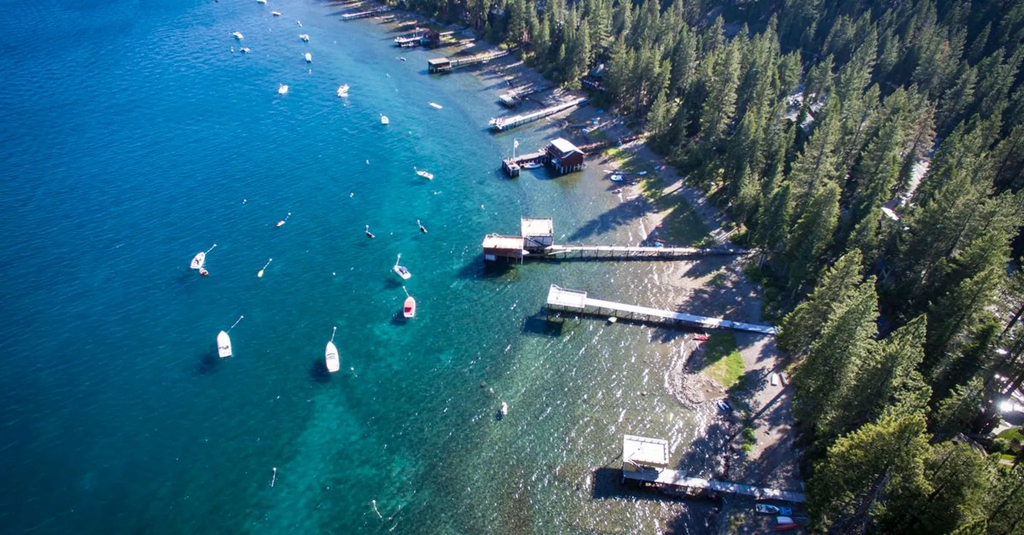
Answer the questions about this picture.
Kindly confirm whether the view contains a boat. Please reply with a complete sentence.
Yes, there is a boat in the image.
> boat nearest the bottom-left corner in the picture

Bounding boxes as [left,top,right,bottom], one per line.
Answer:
[216,329,232,361]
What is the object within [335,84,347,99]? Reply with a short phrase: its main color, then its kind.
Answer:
white boat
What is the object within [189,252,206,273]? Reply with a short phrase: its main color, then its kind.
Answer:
white boat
